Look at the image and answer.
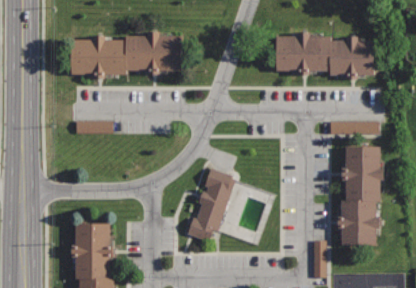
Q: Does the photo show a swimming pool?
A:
Yes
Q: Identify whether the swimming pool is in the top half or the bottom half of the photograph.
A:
bottom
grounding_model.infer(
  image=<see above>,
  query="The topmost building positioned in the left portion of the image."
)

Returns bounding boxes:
[71,33,182,78]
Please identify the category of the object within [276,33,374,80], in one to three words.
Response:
building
